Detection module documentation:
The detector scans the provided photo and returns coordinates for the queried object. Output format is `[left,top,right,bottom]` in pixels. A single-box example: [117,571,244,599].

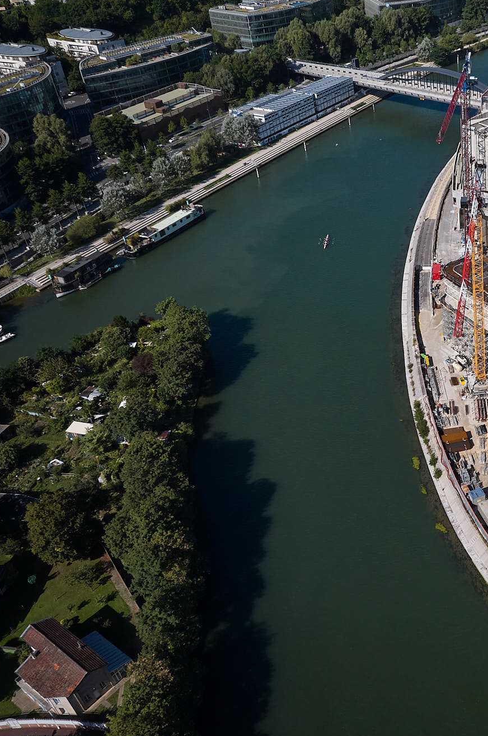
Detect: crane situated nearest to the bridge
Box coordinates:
[434,55,476,254]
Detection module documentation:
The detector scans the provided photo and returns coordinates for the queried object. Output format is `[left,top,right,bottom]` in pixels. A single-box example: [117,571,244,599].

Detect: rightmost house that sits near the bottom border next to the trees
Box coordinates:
[13,618,130,717]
